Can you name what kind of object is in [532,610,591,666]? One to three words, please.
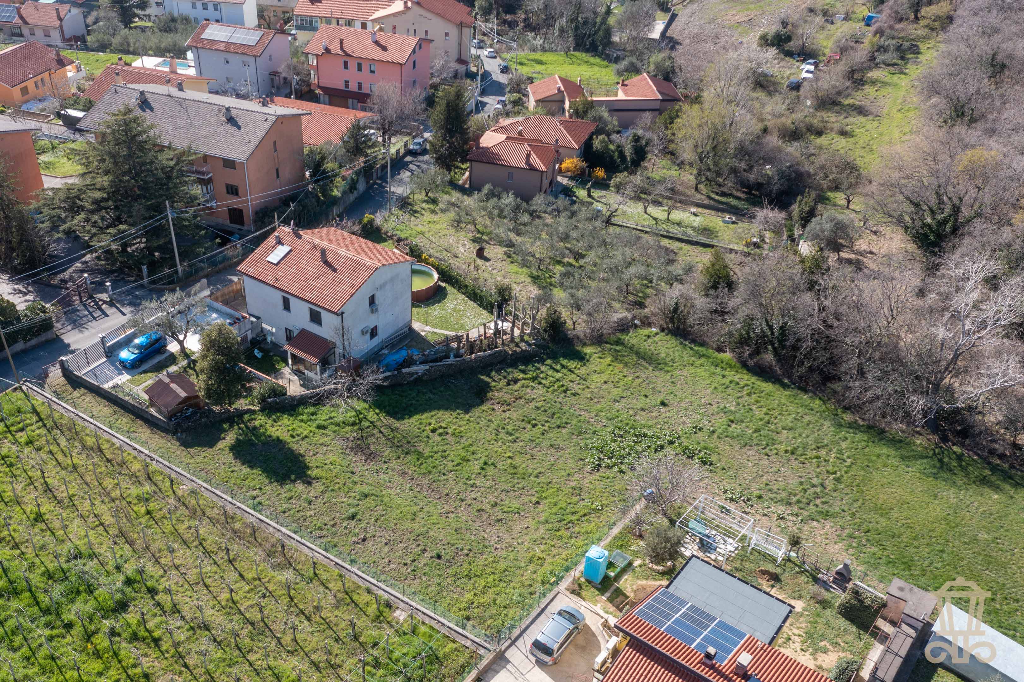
car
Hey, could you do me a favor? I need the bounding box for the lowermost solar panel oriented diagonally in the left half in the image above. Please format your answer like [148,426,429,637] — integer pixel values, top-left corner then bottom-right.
[262,241,294,266]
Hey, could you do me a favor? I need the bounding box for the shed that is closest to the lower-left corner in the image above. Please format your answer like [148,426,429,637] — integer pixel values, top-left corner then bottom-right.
[144,375,207,428]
